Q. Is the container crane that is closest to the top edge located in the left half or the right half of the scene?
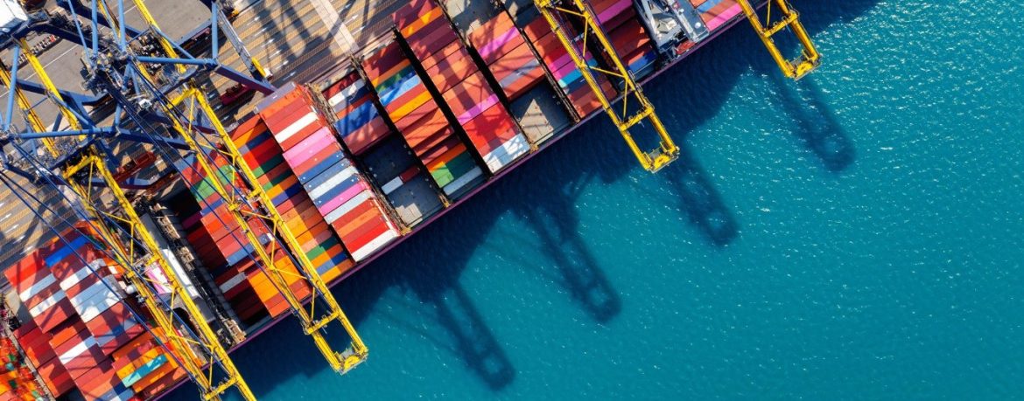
right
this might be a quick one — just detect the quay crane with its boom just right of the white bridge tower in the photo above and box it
[739,0,830,83]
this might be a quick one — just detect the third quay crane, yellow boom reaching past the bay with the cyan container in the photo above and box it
[538,0,685,174]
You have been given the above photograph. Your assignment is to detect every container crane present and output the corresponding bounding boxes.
[0,0,255,401]
[538,0,685,174]
[739,0,830,83]
[43,0,368,376]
